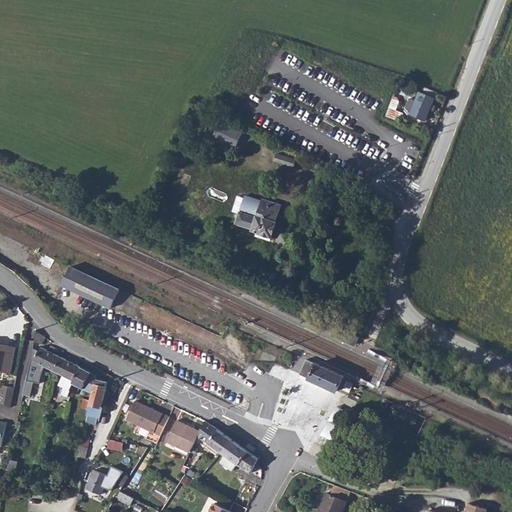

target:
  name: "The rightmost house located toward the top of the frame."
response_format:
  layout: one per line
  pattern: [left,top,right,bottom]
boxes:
[405,92,434,120]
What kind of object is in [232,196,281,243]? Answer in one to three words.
house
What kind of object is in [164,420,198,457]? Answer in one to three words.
house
